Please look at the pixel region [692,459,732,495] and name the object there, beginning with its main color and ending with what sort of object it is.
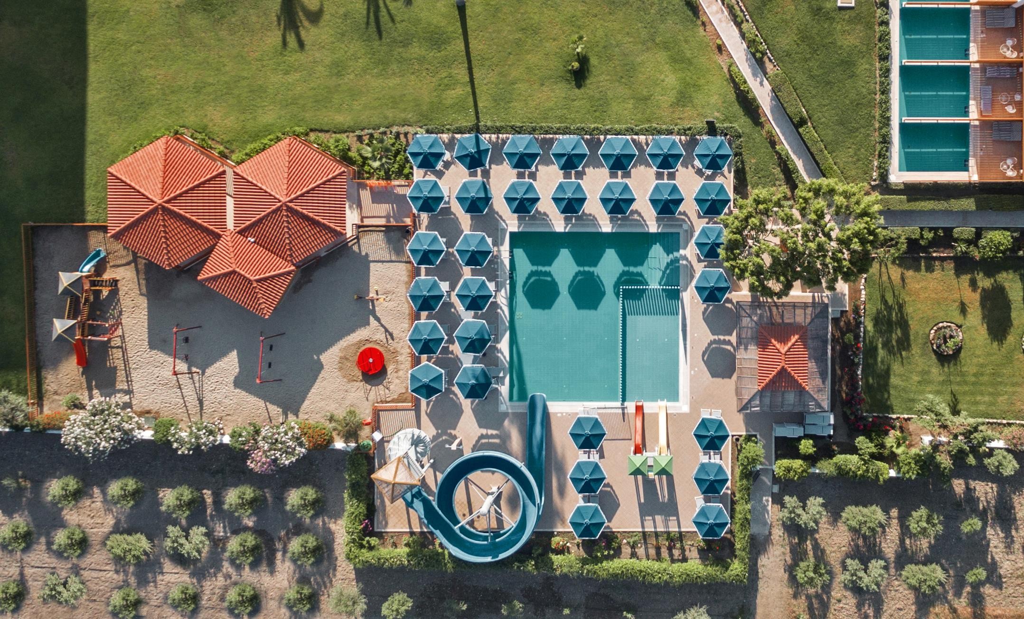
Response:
blue umbrella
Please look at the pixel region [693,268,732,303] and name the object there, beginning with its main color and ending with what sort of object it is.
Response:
blue umbrella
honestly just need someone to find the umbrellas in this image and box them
[405,179,445,214]
[551,180,590,215]
[406,320,446,356]
[692,504,731,539]
[692,181,732,216]
[646,181,685,217]
[407,135,446,170]
[503,134,541,169]
[693,224,731,260]
[454,277,494,312]
[691,415,730,450]
[503,180,541,215]
[407,277,446,312]
[692,459,732,495]
[568,459,606,494]
[454,364,493,400]
[407,231,446,266]
[567,504,607,539]
[454,179,493,215]
[550,136,590,171]
[597,180,637,215]
[598,136,636,170]
[410,362,445,402]
[453,318,493,355]
[567,415,606,450]
[647,135,686,171]
[453,133,492,171]
[694,136,733,172]
[454,232,494,267]
[693,268,732,303]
